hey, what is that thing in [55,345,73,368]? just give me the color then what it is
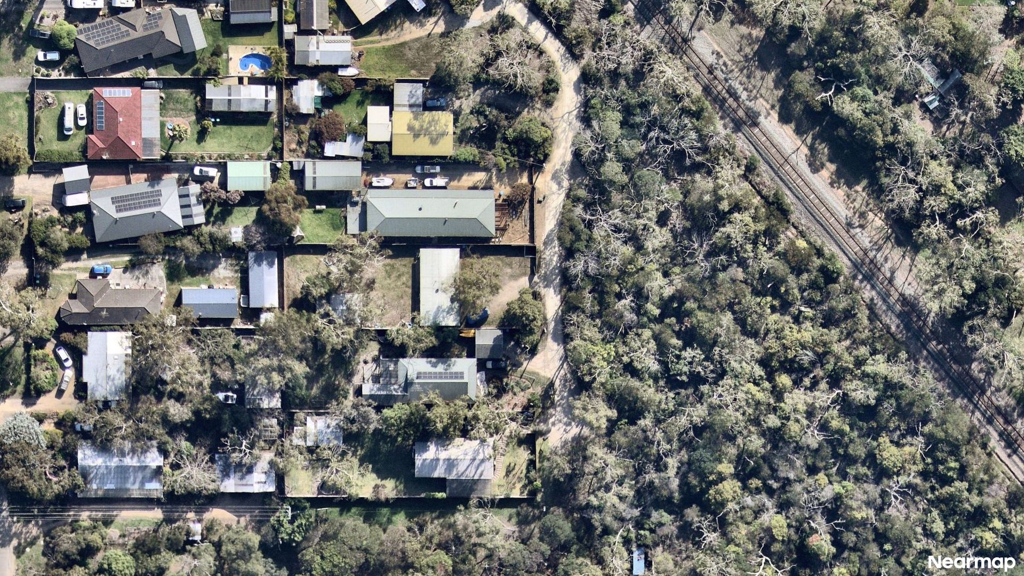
white car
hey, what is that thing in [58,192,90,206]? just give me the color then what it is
white camper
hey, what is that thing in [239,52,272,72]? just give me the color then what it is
blue swimming pool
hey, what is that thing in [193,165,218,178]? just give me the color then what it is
white vehicle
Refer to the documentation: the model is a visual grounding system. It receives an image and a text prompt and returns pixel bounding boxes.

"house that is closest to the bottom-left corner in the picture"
[78,440,164,498]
